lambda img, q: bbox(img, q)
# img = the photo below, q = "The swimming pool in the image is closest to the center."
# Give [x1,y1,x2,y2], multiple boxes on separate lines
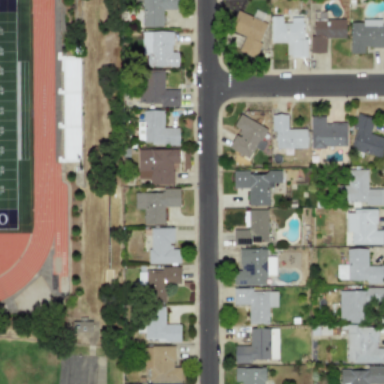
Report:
[282,219,298,242]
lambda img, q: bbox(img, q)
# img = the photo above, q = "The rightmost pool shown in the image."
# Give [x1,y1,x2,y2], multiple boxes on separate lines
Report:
[365,2,384,18]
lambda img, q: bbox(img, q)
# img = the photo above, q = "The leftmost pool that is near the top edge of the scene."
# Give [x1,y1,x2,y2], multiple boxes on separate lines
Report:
[325,4,342,18]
